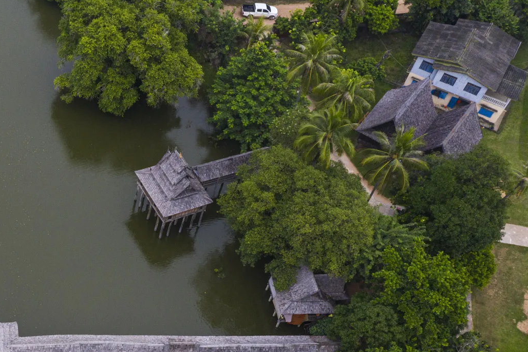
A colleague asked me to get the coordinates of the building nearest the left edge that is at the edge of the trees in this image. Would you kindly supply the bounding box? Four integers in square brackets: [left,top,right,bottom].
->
[135,144,213,237]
